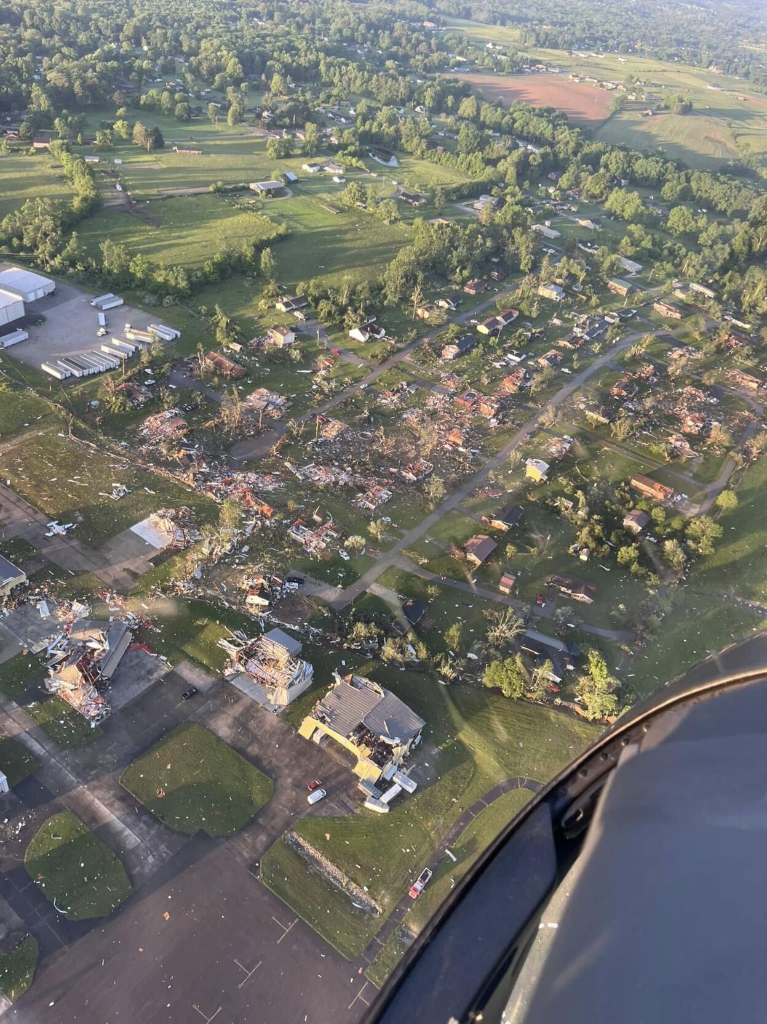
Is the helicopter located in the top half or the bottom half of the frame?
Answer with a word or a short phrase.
bottom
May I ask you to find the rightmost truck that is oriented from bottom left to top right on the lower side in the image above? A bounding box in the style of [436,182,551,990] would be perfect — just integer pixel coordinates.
[411,860,437,895]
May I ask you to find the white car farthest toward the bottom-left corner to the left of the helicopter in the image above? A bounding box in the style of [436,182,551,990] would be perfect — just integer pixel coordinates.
[307,788,327,803]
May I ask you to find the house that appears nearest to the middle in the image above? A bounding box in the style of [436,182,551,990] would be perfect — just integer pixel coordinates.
[355,484,400,510]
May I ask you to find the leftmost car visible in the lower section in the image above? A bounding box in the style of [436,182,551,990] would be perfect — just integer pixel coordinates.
[179,684,200,698]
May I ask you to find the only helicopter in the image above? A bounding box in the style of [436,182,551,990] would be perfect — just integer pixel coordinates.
[358,632,767,1024]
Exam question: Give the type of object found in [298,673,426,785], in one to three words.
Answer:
hangar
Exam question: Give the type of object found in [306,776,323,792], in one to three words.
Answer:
car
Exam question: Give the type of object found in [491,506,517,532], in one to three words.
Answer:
house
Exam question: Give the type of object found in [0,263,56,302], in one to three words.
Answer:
building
